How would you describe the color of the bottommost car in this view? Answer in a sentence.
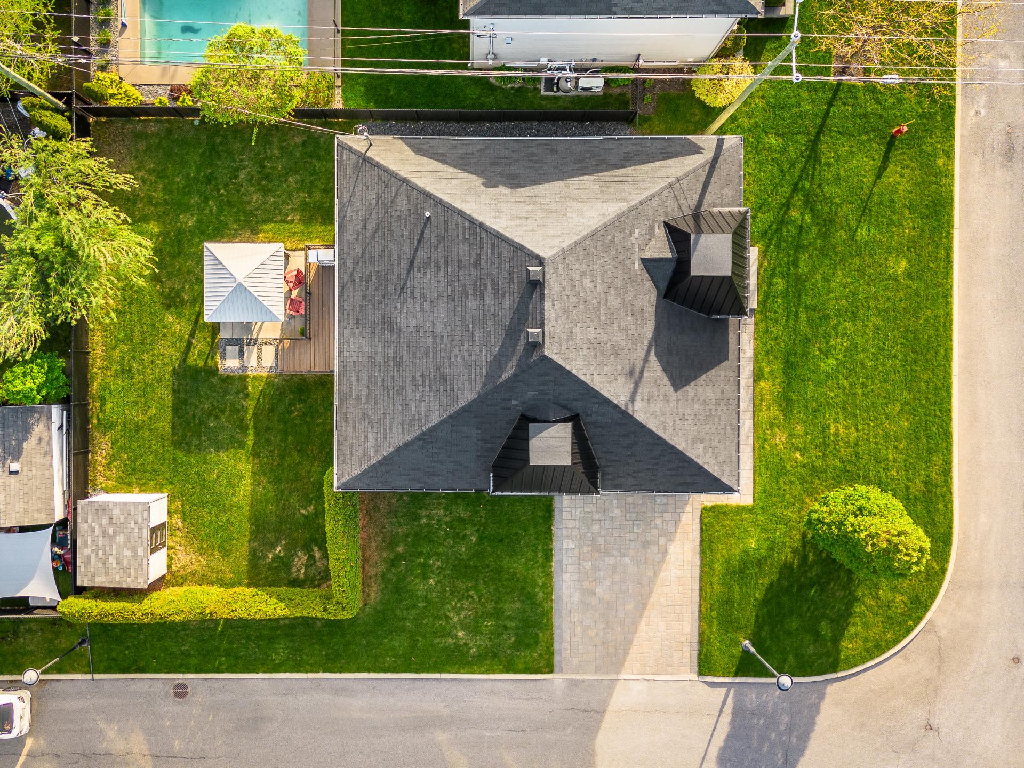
In this view, the bottommost car is white.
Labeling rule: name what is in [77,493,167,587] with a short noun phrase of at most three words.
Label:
shed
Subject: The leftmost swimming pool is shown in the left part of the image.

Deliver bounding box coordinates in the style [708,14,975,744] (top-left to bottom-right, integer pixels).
[119,0,341,85]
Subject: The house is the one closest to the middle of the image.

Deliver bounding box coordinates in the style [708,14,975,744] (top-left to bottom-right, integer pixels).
[333,133,752,497]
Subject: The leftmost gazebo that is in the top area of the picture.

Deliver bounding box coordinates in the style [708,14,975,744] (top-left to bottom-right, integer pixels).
[204,242,295,323]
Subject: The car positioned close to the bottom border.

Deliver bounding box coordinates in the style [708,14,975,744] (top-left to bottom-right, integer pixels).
[0,686,35,737]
